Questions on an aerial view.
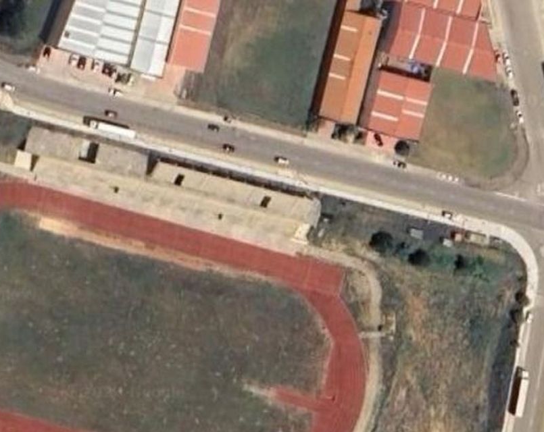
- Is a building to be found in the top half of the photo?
Yes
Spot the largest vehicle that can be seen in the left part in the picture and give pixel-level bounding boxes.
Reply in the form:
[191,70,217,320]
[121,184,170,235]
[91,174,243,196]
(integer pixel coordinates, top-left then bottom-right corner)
[92,121,135,137]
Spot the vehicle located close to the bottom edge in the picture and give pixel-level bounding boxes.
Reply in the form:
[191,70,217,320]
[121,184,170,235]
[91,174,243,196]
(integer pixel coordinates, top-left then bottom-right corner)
[513,373,530,415]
